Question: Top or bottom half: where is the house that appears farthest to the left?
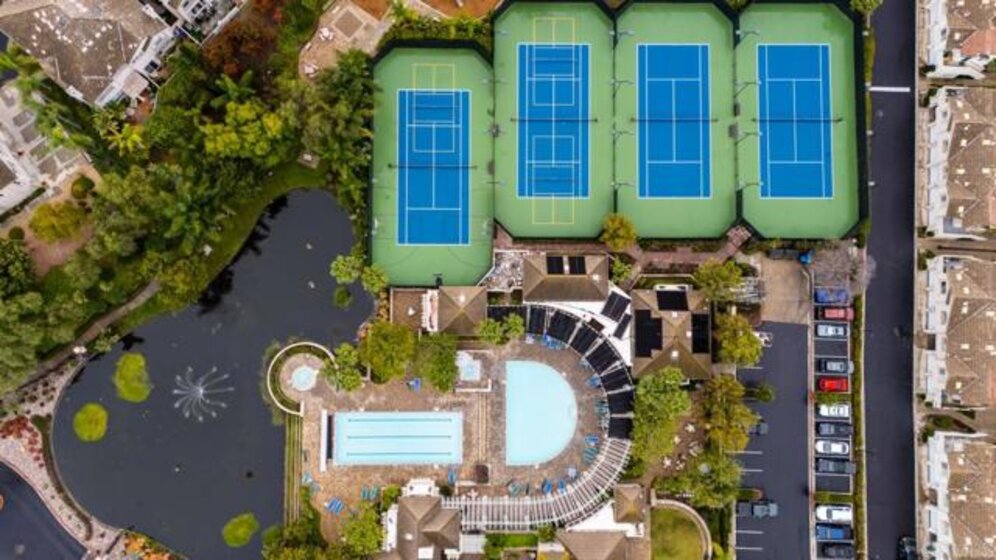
top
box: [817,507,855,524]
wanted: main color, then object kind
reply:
white vehicle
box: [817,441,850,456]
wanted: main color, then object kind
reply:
white car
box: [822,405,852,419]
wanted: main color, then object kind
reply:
white vehicle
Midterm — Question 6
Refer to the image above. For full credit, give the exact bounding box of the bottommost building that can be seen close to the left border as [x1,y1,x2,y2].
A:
[0,152,34,217]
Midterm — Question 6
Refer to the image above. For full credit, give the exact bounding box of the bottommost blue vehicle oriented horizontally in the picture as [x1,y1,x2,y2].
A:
[816,526,856,543]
